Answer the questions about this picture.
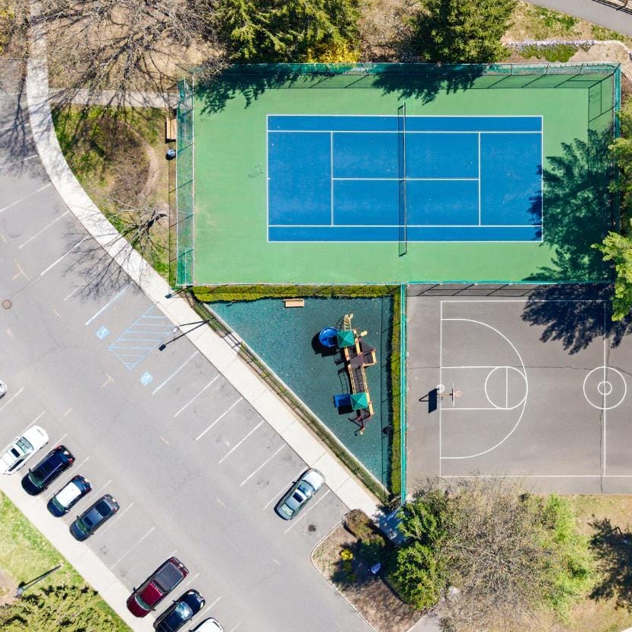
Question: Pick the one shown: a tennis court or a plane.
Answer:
tennis court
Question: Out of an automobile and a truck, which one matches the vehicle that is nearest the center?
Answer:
automobile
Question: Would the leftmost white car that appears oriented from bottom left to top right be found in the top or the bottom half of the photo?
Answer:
bottom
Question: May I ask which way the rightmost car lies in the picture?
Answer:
at an angle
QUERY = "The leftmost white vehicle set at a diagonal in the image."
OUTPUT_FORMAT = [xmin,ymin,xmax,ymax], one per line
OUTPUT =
[0,429,45,478]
